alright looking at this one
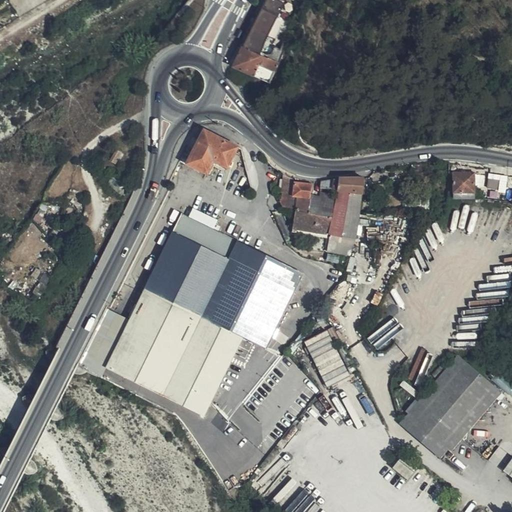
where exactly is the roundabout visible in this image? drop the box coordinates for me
[150,48,224,121]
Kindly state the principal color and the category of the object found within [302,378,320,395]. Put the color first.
white vehicle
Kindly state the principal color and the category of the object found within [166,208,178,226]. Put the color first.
white vehicle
